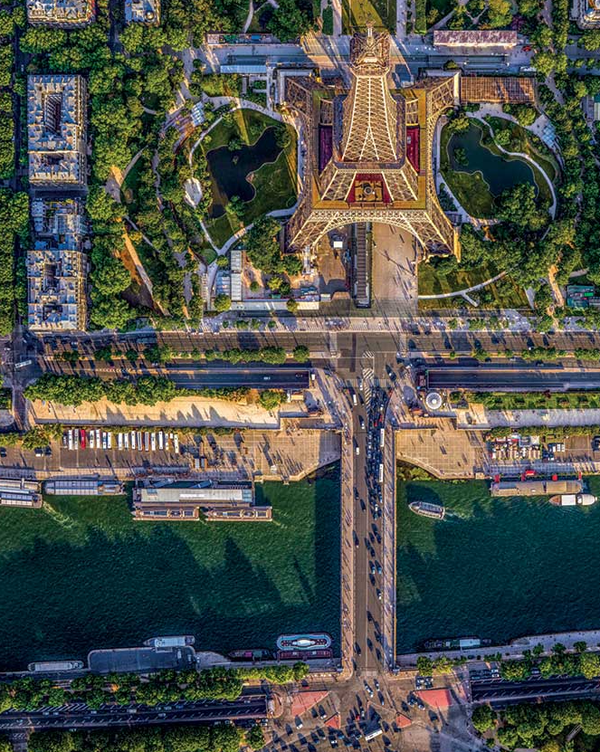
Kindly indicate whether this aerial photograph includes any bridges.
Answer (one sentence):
Yes, a bridge appears in the view.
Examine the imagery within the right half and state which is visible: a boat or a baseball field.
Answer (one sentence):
Looking within the right half, you will find a boat.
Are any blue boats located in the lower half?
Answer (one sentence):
Yes, a blue boat can be seen in the lower half.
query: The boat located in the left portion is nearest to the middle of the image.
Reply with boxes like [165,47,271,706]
[206,508,272,520]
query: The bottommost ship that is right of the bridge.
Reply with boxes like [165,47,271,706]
[425,637,493,649]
